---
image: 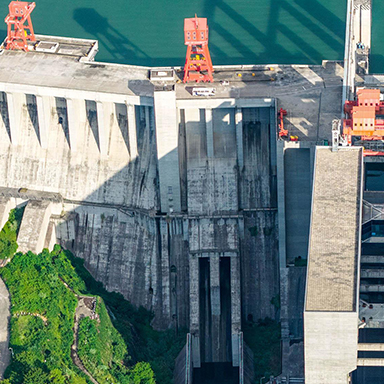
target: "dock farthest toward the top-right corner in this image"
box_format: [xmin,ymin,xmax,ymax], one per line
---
[354,0,372,51]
